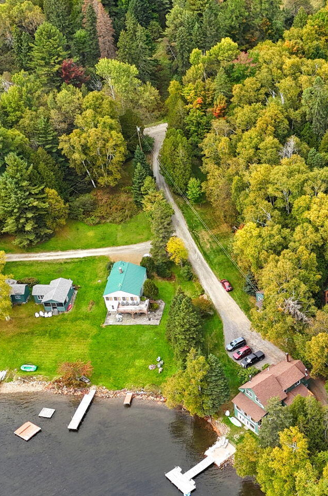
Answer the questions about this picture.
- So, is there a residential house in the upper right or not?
No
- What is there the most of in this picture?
trees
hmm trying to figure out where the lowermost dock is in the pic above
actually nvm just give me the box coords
[165,456,214,496]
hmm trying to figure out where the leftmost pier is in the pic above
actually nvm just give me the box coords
[67,389,98,430]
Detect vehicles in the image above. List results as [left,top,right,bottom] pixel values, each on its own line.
[240,350,266,368]
[224,333,247,352]
[231,345,252,360]
[220,278,233,292]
